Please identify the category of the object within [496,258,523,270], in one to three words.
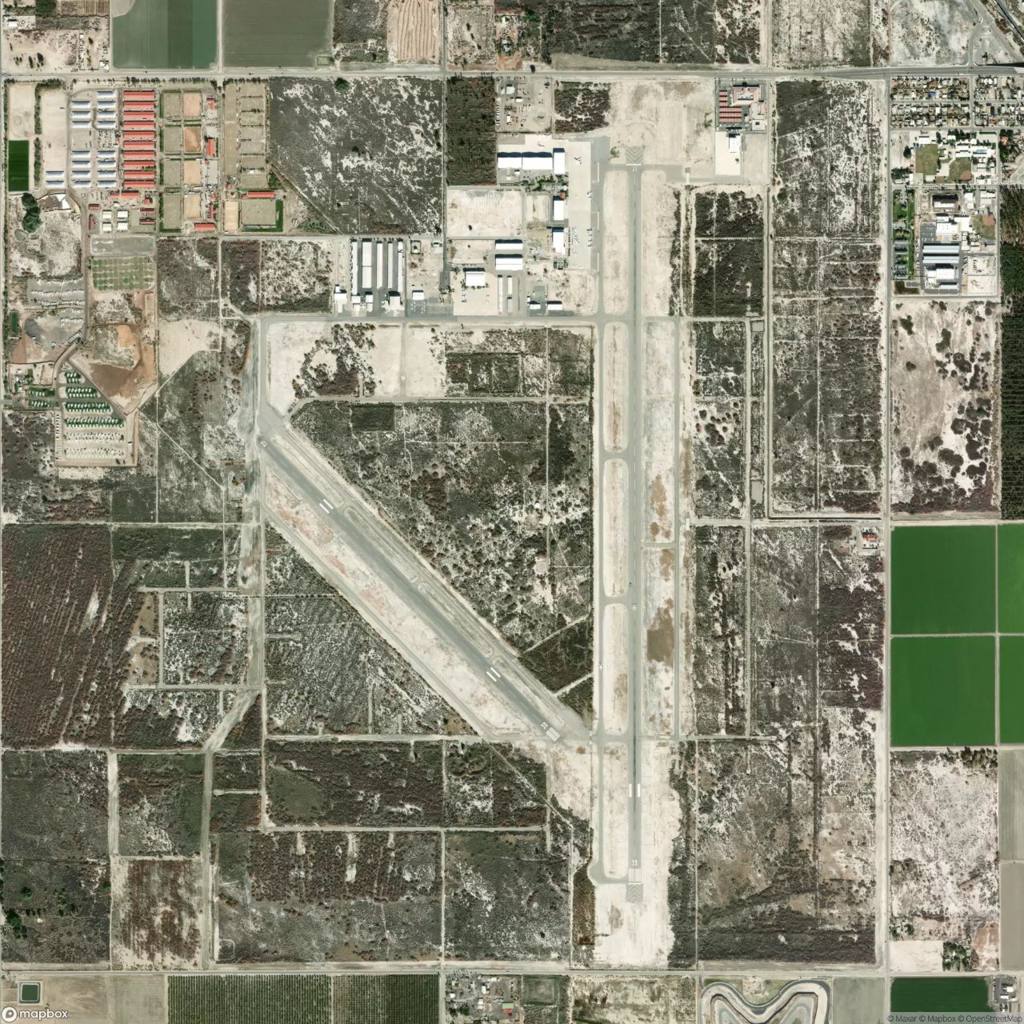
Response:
hangar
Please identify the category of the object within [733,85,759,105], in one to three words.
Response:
building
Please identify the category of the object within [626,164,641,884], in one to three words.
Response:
runway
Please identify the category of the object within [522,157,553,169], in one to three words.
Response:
hangar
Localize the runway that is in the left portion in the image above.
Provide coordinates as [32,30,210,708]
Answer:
[255,435,563,748]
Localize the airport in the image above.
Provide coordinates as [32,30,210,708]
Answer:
[255,132,766,902]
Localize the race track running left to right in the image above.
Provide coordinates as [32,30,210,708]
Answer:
[700,979,830,1024]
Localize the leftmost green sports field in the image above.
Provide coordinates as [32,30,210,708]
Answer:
[9,140,29,191]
